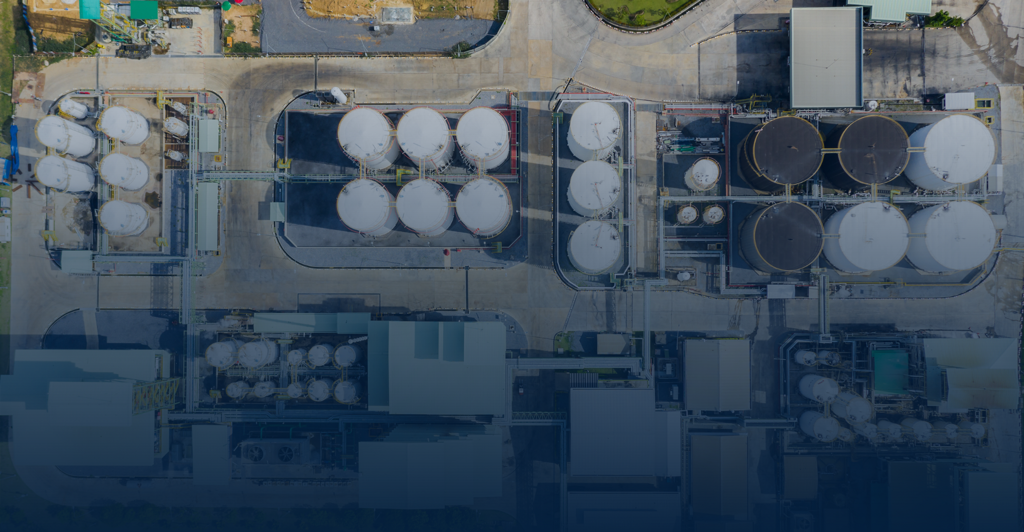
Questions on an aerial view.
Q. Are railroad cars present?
No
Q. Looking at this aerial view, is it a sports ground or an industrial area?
industrial area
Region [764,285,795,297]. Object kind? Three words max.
shed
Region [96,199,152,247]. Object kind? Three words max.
storage tank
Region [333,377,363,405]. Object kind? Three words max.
storage tank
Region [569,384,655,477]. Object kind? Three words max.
building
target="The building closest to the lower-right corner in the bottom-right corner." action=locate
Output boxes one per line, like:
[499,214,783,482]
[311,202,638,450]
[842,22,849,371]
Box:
[947,461,1021,532]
